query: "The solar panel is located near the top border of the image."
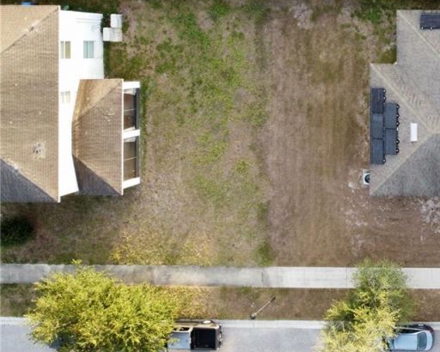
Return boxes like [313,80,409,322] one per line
[420,14,440,28]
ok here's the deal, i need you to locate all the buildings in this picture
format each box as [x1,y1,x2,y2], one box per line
[0,4,140,202]
[369,10,440,196]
